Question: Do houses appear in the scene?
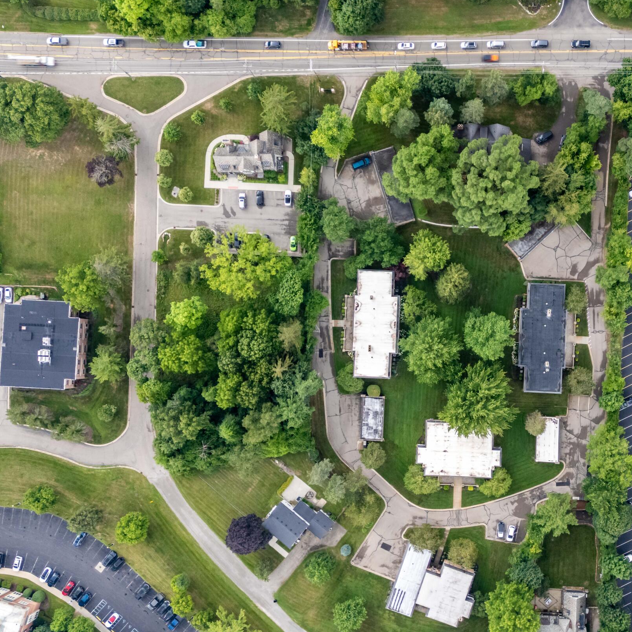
Yes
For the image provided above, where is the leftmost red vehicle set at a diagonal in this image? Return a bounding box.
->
[60,581,75,597]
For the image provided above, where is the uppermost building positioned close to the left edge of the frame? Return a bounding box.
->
[0,300,89,390]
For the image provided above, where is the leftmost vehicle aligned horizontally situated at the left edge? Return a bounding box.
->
[0,50,55,65]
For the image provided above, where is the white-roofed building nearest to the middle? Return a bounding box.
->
[352,269,401,379]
